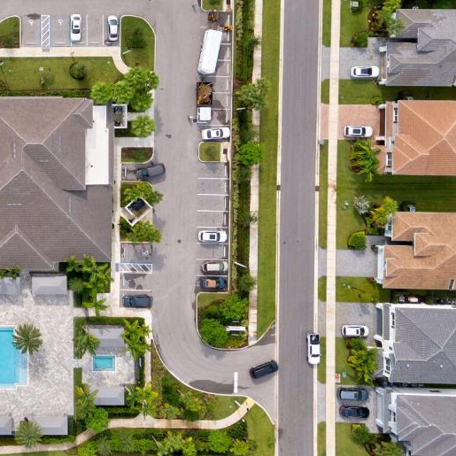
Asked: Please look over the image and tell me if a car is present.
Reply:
Yes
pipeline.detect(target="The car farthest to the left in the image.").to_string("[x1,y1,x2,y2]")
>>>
[69,13,83,43]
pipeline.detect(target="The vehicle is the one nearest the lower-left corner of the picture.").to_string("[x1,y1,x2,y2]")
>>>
[122,294,151,307]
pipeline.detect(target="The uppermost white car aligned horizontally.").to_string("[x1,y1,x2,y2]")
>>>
[348,66,379,79]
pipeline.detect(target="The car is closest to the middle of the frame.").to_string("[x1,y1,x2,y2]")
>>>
[197,230,228,243]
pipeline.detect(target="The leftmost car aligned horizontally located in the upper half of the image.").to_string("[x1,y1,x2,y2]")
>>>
[136,163,167,180]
